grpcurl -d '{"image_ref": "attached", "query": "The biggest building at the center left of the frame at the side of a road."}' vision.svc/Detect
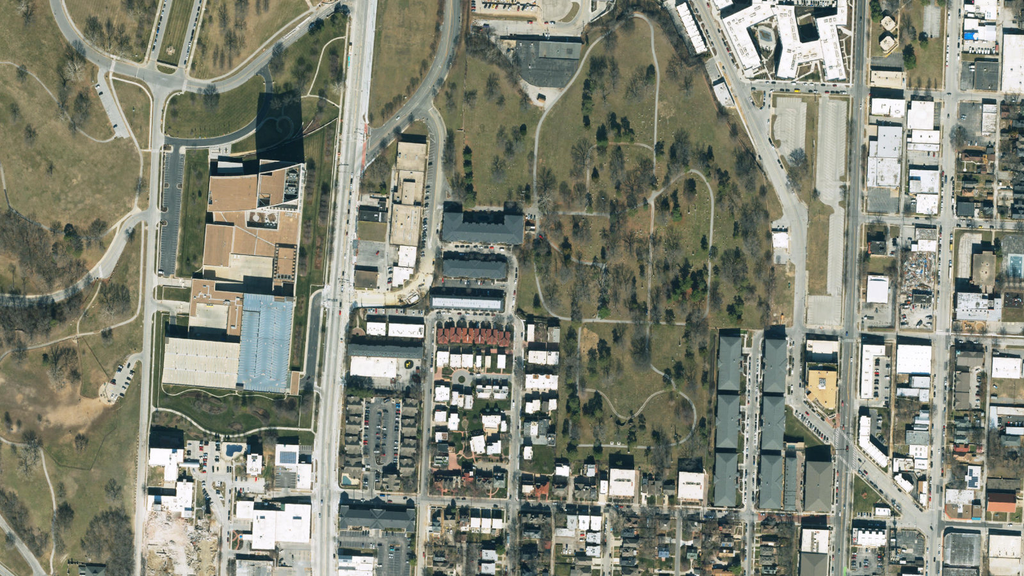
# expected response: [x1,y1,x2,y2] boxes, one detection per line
[190,160,306,336]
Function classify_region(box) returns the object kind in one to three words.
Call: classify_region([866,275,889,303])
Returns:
shed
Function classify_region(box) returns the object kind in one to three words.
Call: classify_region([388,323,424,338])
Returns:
house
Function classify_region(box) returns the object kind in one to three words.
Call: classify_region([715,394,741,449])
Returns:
building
